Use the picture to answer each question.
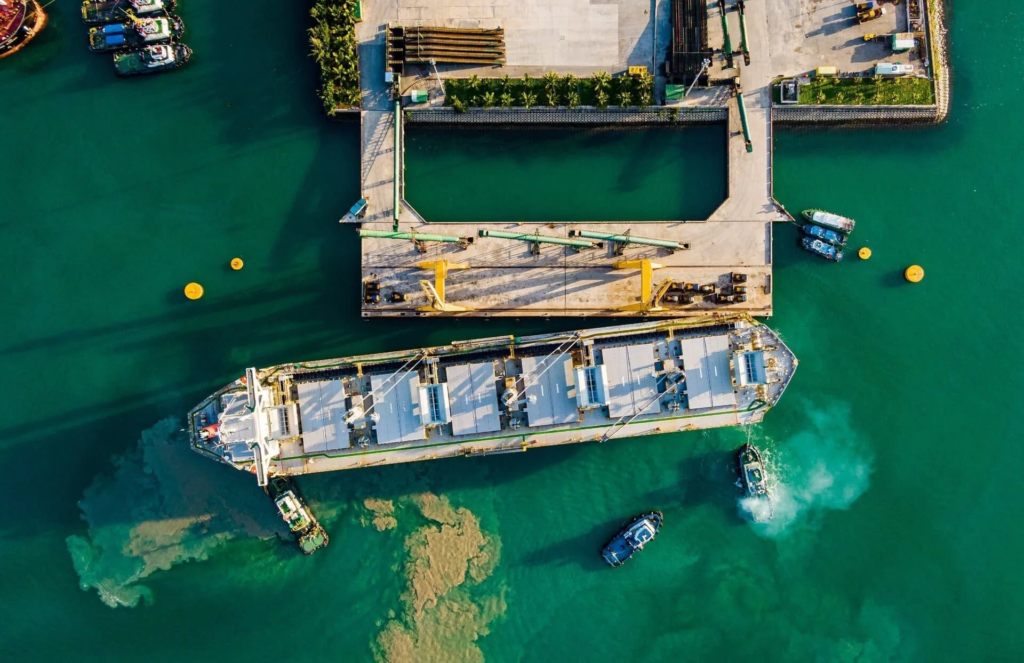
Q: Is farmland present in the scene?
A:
No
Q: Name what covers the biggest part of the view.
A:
water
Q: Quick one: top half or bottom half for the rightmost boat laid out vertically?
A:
bottom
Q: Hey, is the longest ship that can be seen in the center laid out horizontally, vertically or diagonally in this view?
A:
horizontally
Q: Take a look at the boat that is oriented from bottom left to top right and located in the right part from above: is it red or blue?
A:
blue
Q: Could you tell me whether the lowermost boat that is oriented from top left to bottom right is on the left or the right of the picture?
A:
left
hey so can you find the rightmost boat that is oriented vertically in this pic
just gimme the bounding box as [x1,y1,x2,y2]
[740,442,774,523]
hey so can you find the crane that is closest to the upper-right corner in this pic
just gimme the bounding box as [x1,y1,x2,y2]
[608,256,675,314]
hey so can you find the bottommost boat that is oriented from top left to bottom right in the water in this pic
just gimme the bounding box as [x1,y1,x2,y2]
[268,476,330,558]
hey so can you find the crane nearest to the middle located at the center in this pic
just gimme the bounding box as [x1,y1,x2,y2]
[414,256,476,314]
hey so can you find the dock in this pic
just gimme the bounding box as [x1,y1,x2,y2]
[340,108,794,321]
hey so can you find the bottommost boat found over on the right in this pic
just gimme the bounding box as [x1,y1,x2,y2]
[599,511,664,570]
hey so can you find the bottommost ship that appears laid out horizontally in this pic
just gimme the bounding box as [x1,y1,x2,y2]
[185,311,799,486]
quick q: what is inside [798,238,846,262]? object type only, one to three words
boat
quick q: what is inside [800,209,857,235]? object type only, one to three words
boat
